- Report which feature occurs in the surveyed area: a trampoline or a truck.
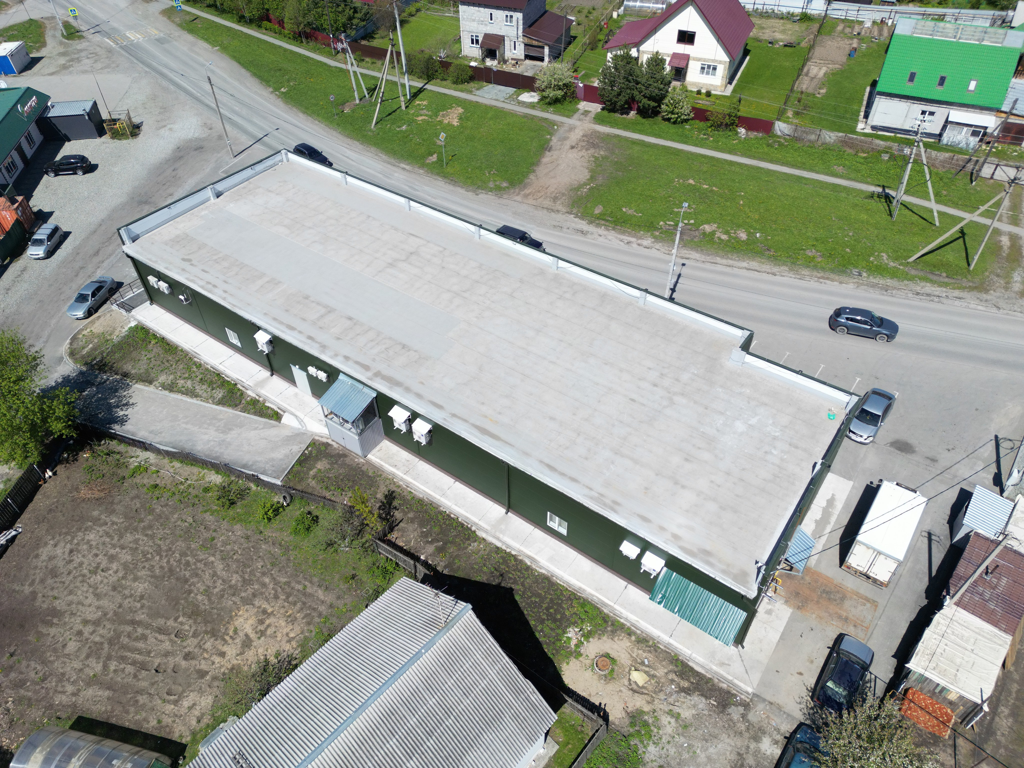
truck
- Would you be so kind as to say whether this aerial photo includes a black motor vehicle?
Yes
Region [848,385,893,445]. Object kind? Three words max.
car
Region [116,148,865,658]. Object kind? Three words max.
building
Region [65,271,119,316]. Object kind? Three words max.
car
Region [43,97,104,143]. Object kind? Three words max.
shed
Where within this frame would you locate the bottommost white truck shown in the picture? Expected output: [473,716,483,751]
[842,472,932,593]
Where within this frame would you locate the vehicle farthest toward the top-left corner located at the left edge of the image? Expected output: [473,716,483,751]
[38,152,93,178]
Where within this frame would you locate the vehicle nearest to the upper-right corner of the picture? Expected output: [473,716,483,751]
[830,304,900,343]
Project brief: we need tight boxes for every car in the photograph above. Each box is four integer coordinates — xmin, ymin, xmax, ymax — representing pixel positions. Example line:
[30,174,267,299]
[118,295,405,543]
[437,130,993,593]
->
[65,271,119,316]
[764,718,826,768]
[294,138,342,167]
[806,635,873,726]
[830,304,900,343]
[848,385,893,445]
[22,221,64,258]
[495,216,552,250]
[38,152,93,178]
